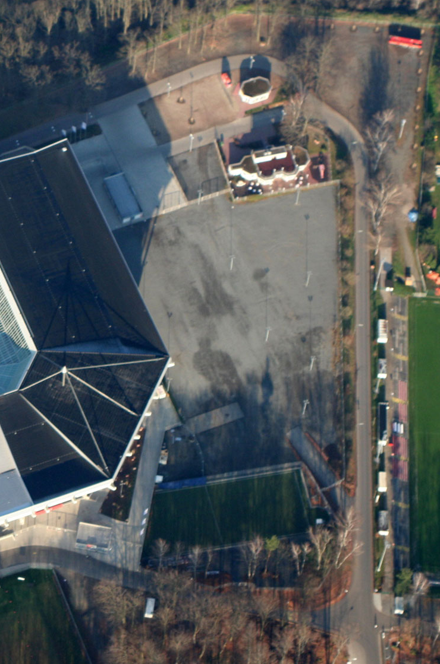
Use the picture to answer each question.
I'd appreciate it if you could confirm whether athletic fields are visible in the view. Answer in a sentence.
Yes, there is an athletic field in the image.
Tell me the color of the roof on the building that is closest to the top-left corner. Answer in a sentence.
From above, the roof of the building that is closest to the top-left corner looks blue.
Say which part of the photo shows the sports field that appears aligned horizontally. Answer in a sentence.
The sports field that appears aligned horizontally sits in the bottom section of the image.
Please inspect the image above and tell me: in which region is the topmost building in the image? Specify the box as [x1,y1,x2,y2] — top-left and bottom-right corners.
[239,76,272,105]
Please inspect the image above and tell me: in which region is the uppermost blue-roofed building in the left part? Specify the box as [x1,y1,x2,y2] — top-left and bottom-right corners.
[103,173,143,223]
